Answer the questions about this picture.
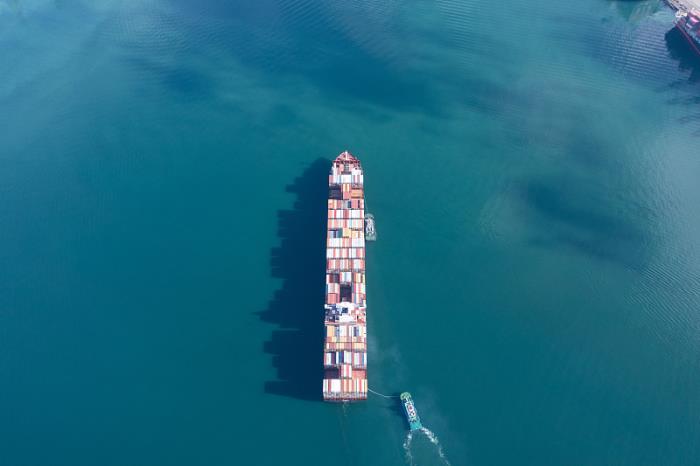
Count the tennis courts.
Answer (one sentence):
There are no tennis courts in the image.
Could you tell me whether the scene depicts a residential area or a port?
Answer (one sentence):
It's a port.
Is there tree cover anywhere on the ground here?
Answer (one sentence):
No, there's no tree cover in this view.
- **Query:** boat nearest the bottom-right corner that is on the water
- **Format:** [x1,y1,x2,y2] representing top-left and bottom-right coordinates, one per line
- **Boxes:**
[401,391,422,430]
